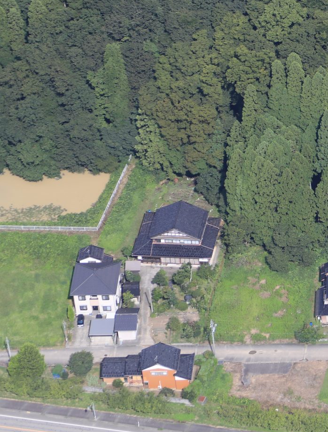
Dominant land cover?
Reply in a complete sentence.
The largest share of the image is taken up by trees.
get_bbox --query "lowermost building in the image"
[99,341,207,393]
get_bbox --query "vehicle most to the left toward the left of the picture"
[74,312,87,327]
